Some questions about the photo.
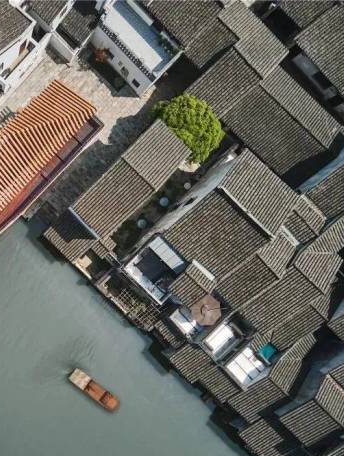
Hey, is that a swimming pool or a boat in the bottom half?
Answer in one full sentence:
The one visible in the bottom half is a boat.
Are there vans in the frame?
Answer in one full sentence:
No, no van is visible in the view.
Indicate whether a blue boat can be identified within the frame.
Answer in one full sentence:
No, no blue boat is visible in the scene.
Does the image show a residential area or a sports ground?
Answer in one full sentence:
This looks like a residential area.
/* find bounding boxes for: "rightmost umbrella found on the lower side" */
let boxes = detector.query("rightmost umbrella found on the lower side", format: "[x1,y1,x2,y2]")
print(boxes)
[189,294,221,325]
